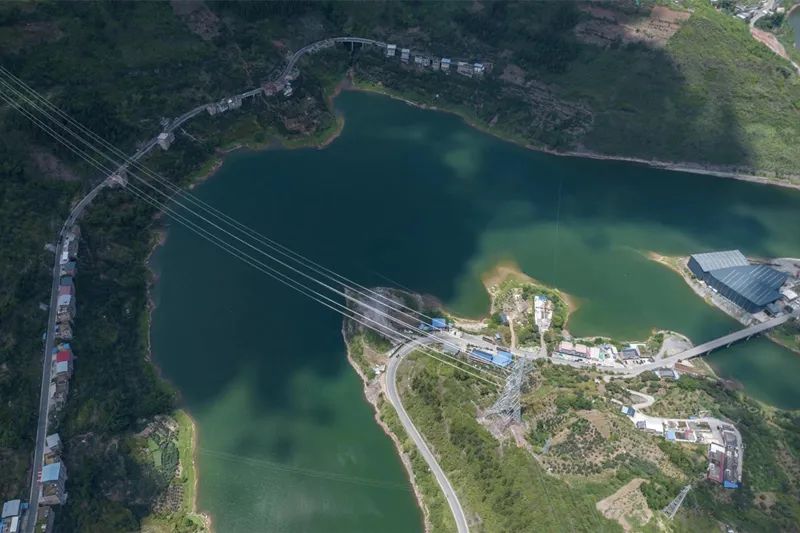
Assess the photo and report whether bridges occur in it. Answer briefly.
Yes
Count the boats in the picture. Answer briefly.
zero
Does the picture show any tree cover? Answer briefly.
Yes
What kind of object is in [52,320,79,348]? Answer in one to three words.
house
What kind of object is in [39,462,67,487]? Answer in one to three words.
house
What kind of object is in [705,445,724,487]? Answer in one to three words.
building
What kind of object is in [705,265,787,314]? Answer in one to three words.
building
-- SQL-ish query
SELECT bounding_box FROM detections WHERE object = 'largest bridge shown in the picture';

[685,315,780,358]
